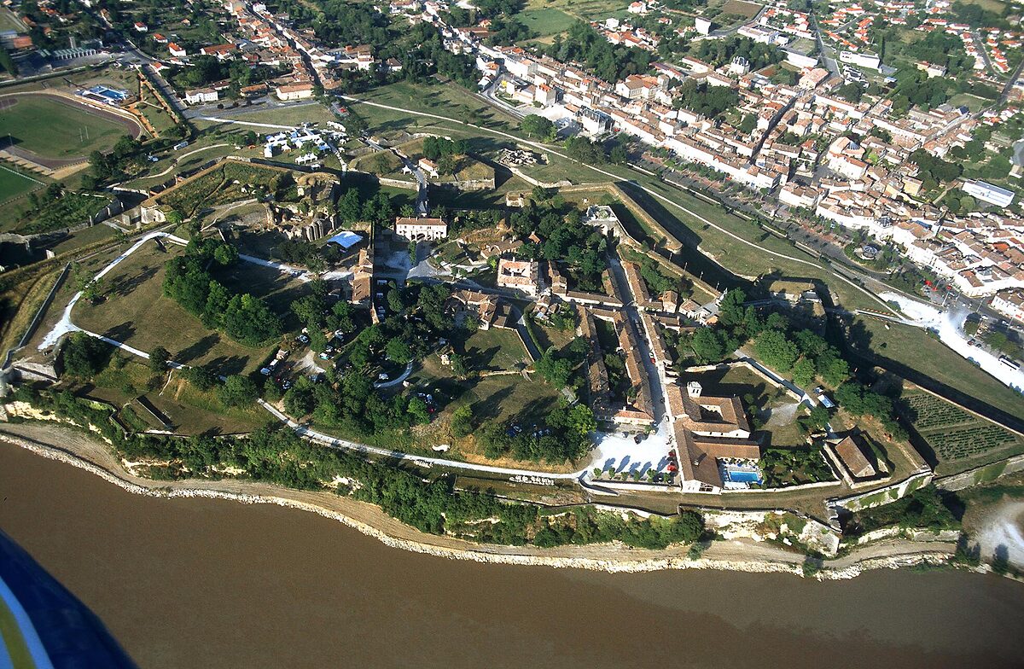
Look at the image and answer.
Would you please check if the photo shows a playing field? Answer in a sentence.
Yes, the photo shows a playing field.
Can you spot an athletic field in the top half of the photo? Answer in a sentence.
Yes, an athletic field can be seen in the top half of the photo.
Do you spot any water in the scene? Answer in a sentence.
Yes, water shows up in the scene.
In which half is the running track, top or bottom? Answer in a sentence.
It is in the top half that the running track appears.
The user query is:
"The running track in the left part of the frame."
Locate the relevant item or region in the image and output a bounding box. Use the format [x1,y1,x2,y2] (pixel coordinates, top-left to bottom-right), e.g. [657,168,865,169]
[0,92,139,168]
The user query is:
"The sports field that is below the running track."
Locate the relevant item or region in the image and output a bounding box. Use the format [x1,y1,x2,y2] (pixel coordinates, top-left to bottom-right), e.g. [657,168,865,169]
[0,165,44,205]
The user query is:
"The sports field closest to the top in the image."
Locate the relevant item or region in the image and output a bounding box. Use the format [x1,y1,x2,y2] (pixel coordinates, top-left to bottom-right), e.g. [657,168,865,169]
[0,98,128,157]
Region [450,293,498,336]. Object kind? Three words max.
house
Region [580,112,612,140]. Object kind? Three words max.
house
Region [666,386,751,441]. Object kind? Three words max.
building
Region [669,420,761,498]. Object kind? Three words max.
building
